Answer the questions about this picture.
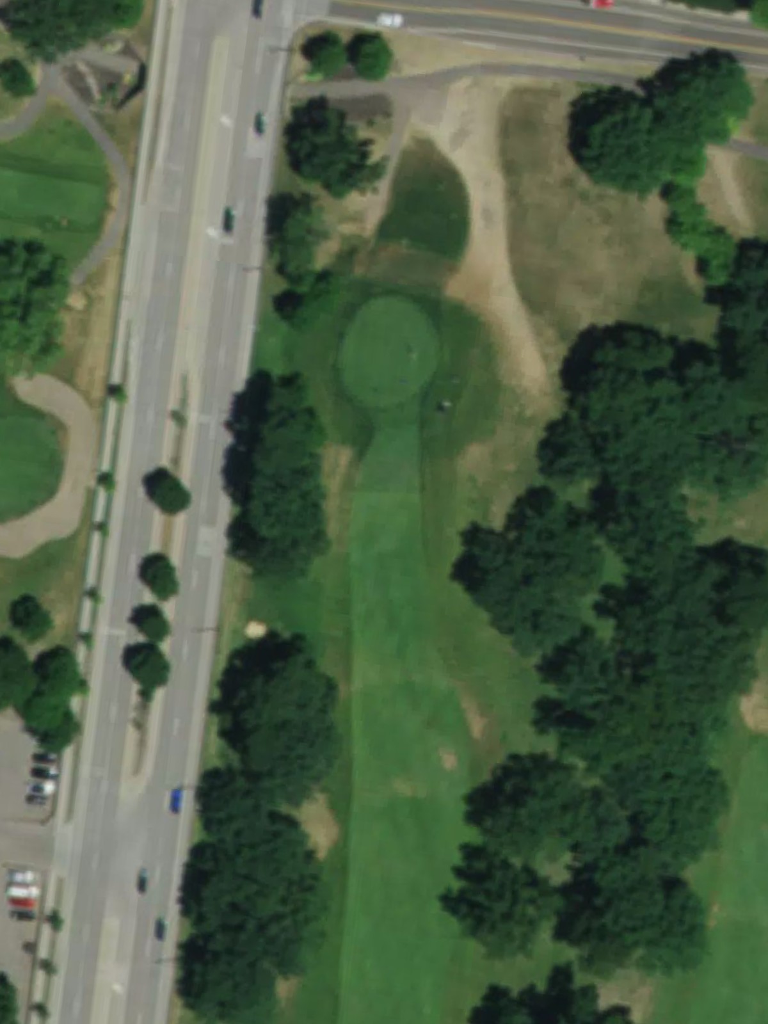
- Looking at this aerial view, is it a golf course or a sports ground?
golf course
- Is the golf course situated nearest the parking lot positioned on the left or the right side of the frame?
left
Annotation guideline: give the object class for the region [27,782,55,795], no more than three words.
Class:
vehicle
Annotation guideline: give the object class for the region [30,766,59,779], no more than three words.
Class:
vehicle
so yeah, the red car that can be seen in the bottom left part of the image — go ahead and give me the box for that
[8,897,35,910]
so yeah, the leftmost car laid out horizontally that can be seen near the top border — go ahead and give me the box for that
[376,14,404,27]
